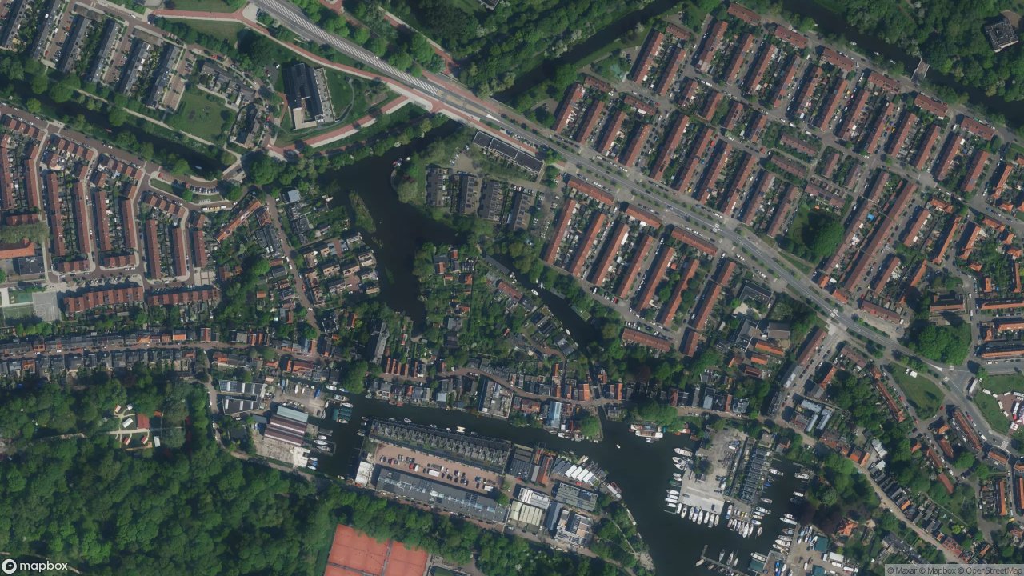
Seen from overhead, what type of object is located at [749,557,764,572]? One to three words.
boat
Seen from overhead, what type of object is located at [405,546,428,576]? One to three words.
tennis court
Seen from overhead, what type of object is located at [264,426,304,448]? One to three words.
building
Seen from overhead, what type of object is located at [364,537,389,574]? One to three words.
tennis court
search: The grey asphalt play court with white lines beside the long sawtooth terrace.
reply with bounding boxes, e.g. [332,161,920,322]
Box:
[32,291,59,321]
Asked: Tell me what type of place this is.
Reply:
residential area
